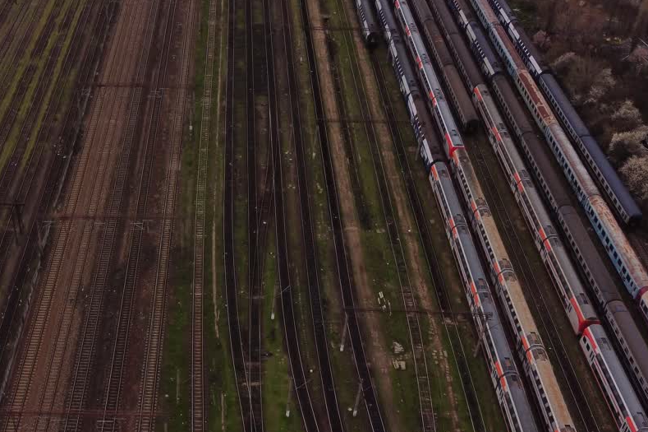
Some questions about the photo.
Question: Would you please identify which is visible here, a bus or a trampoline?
bus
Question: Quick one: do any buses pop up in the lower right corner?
Yes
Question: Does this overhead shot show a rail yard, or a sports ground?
rail yard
